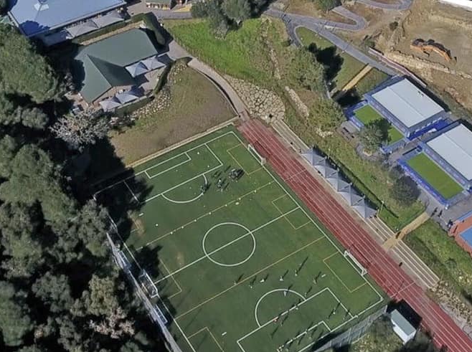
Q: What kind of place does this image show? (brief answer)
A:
sports ground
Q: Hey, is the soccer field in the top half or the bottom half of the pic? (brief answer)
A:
bottom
